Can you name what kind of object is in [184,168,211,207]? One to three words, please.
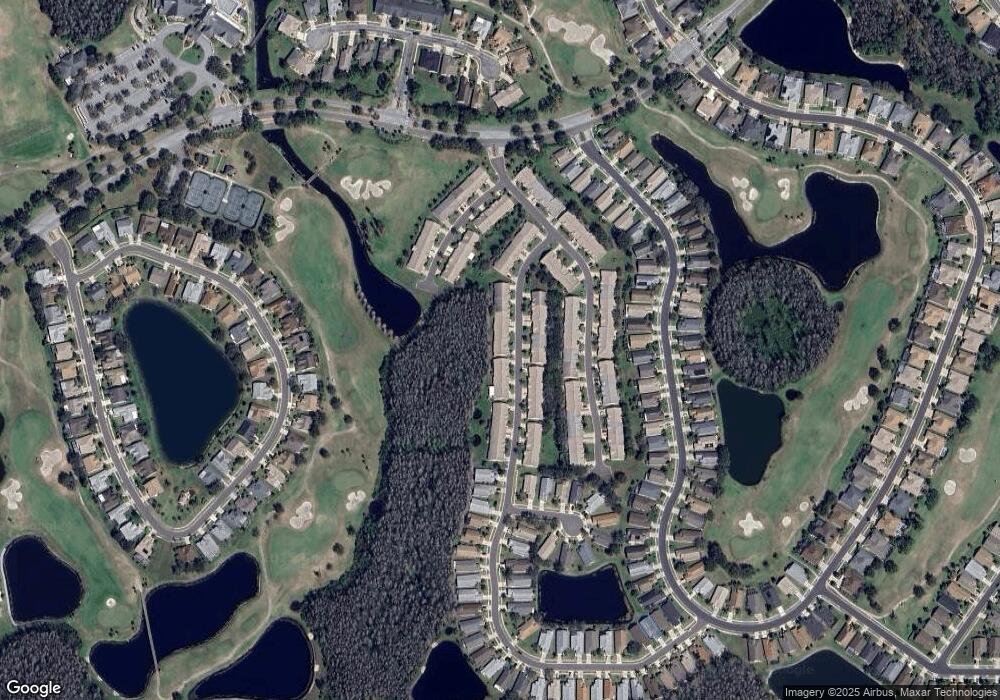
tennis court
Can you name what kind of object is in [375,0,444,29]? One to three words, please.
building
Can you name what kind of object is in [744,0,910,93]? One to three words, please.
pond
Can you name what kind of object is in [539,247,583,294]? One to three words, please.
house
